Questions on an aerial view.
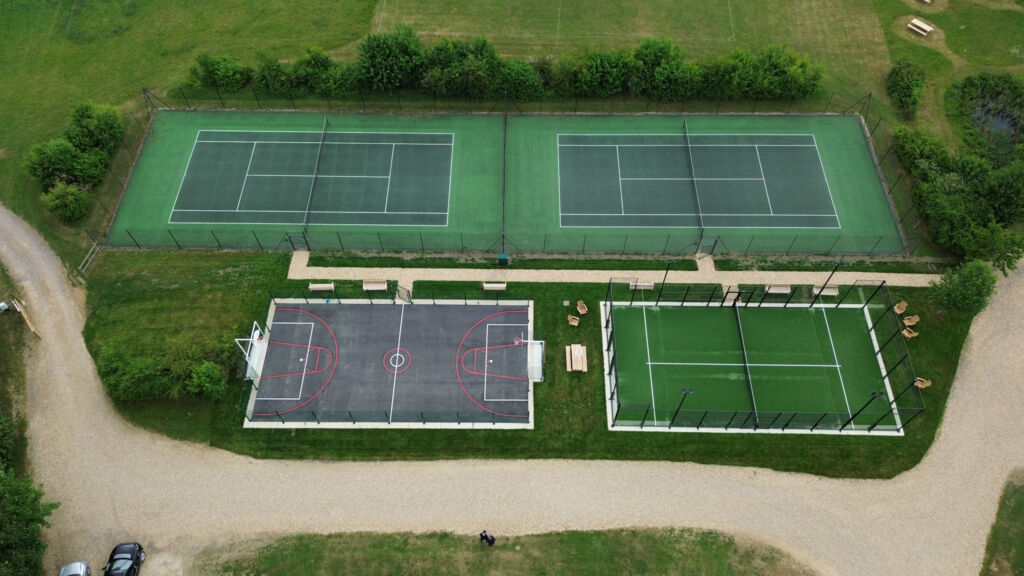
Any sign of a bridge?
No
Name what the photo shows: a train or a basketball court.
basketball court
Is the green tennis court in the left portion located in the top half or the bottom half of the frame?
top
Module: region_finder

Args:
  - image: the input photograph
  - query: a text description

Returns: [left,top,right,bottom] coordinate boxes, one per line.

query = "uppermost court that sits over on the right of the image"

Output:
[504,110,911,257]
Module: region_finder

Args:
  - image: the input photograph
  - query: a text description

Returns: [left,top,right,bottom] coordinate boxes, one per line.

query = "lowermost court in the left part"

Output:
[242,298,544,430]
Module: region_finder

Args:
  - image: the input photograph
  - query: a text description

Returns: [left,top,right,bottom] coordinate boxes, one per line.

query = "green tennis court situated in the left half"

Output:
[97,107,506,253]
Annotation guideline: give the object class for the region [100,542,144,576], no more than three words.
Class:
car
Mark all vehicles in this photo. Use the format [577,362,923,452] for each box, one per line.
[58,560,94,576]
[100,542,144,576]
